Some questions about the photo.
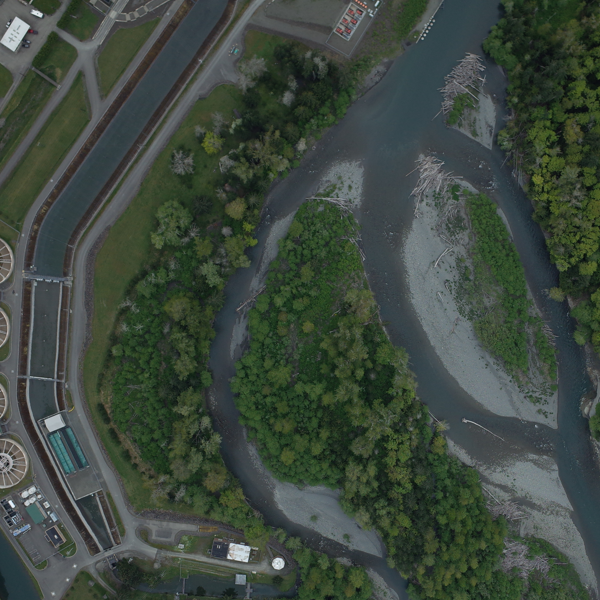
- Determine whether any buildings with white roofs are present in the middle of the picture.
No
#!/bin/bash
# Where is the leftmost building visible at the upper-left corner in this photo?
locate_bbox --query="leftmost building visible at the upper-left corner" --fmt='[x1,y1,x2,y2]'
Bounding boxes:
[0,16,33,54]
